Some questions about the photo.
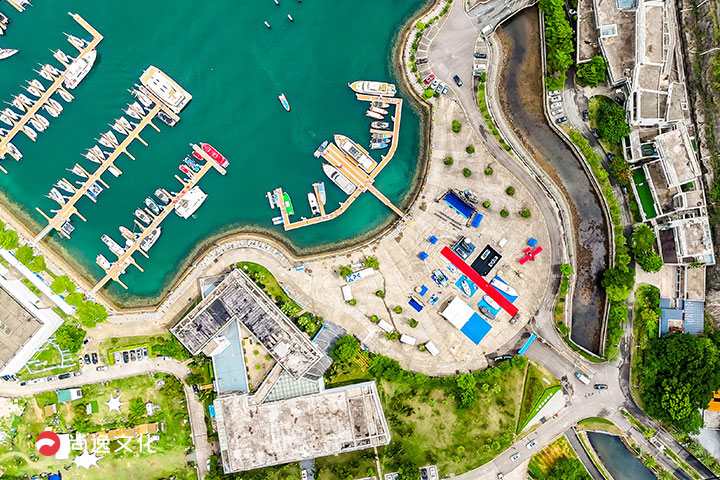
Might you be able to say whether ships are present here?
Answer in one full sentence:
Yes, this view includes a ship.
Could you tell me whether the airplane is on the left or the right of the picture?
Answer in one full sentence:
The airplane is on the right side of the image.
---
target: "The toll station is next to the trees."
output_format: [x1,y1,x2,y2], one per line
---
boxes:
[647,429,667,458]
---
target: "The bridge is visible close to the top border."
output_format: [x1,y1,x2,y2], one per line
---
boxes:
[465,0,542,38]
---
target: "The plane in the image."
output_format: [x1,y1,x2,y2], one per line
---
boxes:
[522,246,546,267]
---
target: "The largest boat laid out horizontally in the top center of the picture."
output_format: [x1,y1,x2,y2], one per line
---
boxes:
[347,79,399,96]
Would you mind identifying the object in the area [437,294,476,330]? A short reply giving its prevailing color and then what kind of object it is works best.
white tent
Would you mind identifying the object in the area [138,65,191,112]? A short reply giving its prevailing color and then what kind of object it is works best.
white ship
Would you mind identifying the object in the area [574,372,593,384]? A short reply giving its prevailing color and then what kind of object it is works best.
white vehicle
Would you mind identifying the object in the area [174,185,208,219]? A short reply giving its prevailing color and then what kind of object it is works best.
white boat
